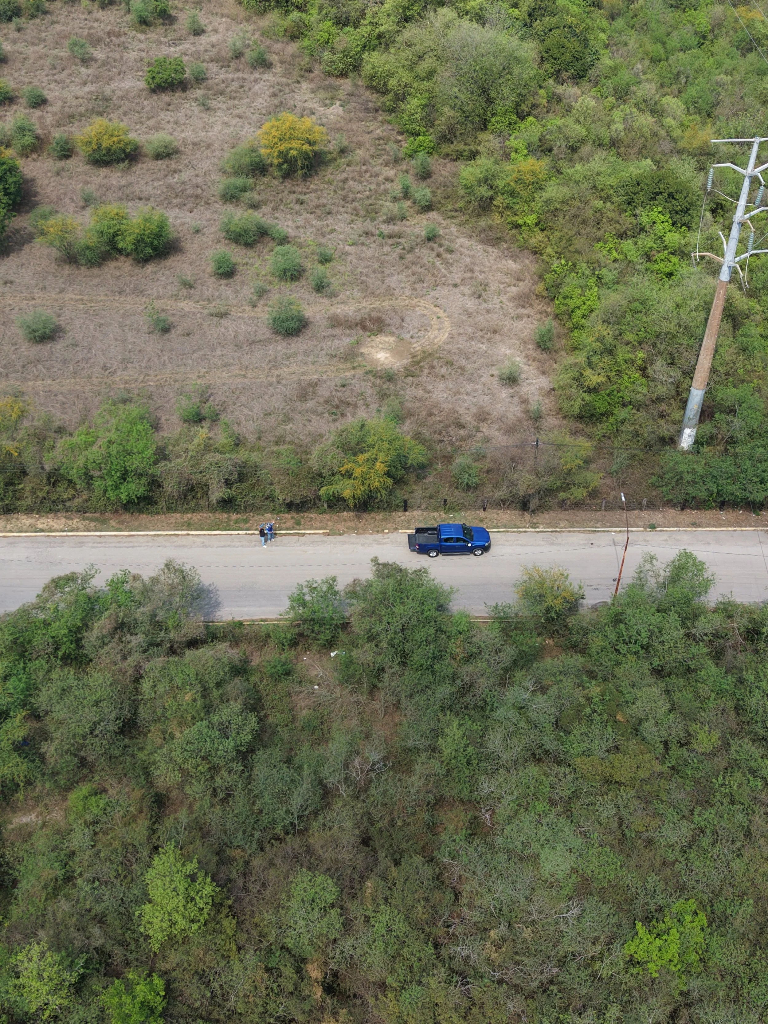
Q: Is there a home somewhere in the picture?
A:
No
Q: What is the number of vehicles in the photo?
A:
1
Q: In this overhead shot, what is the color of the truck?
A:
blue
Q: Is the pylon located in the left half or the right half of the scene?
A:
right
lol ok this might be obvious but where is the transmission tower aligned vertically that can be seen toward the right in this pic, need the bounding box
[676,136,768,452]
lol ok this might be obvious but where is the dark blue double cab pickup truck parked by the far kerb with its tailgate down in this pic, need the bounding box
[408,521,491,557]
